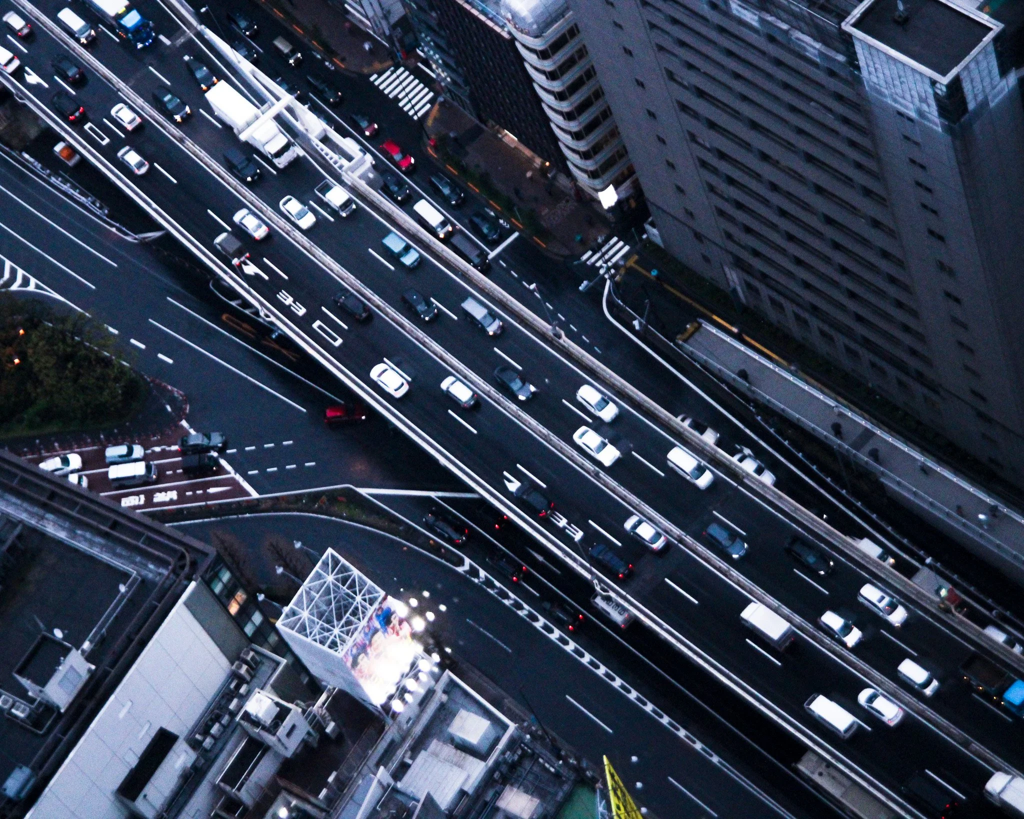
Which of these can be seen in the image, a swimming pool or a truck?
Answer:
truck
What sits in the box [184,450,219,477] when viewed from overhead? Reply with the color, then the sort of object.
black truck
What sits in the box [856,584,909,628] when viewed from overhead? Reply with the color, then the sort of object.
white car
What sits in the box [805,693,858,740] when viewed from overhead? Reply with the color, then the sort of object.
white van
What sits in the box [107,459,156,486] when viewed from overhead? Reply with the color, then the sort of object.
white vehicle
